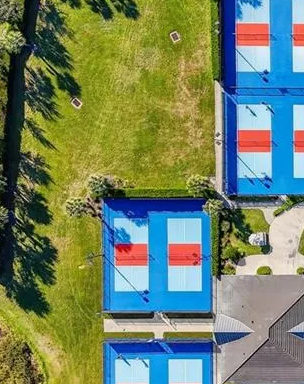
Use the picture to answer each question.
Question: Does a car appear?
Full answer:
No, I find no car anywhere in the image.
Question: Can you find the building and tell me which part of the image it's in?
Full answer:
The building appears toward the bottom right of the photo.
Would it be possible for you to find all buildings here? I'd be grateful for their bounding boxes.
[211,274,304,384]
